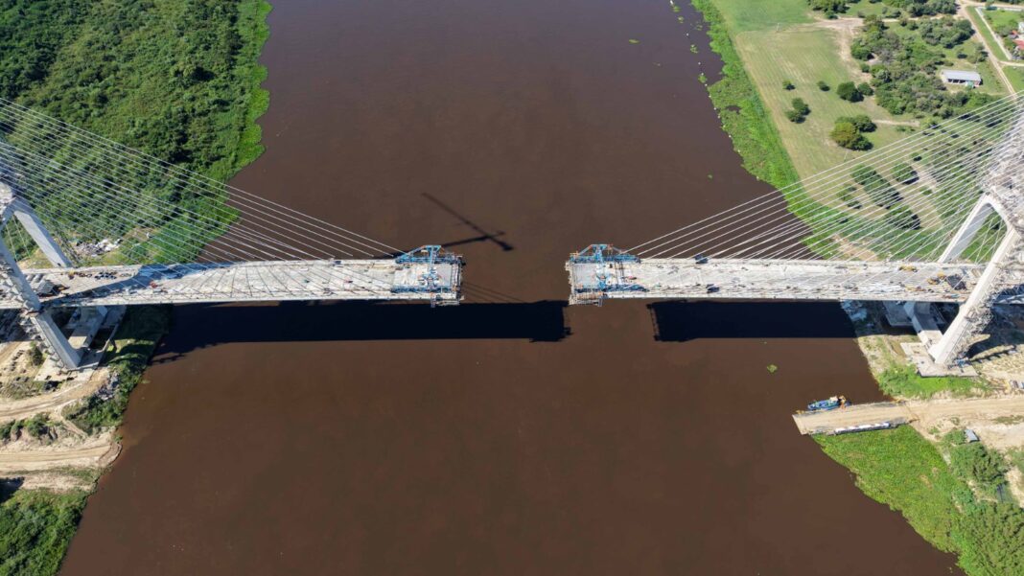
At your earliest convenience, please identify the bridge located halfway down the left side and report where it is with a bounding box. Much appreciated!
[0,111,452,387]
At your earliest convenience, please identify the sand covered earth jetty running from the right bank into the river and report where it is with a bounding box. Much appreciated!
[791,399,910,439]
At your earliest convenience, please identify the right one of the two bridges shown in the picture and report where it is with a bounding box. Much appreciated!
[581,90,1024,386]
